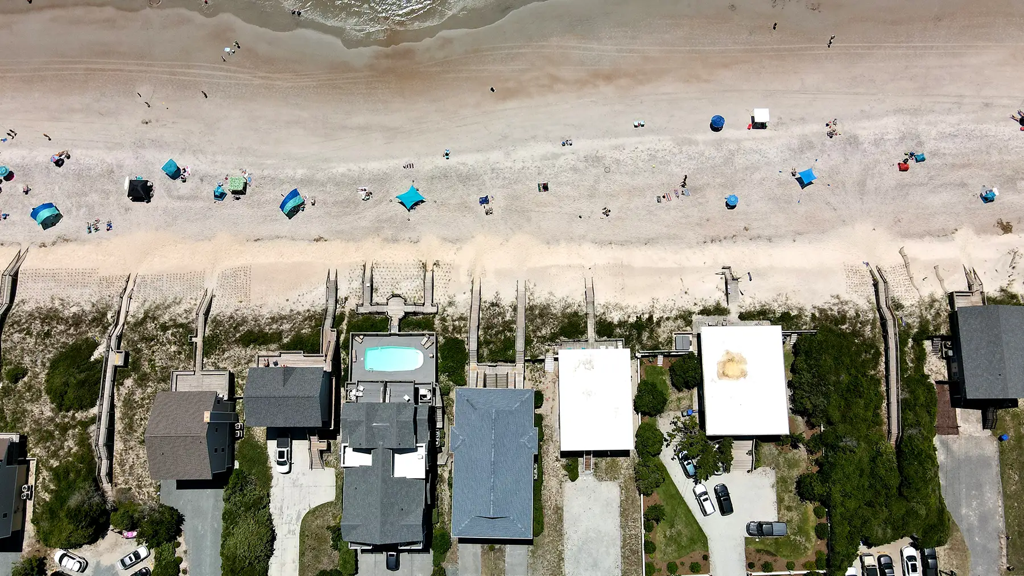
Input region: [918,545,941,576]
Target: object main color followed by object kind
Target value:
black truck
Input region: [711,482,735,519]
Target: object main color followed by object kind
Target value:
black car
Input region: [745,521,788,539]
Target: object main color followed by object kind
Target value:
gray vehicle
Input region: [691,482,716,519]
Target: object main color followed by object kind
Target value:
white car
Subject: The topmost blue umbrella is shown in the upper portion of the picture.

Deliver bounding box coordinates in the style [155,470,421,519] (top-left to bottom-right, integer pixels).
[711,115,724,128]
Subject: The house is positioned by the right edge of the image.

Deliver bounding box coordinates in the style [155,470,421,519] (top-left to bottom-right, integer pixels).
[944,305,1024,398]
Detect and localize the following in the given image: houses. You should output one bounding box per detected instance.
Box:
[944,305,1024,398]
[558,348,634,452]
[693,326,790,436]
[448,388,540,539]
[145,391,239,479]
[340,379,434,550]
[0,438,30,539]
[244,367,332,427]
